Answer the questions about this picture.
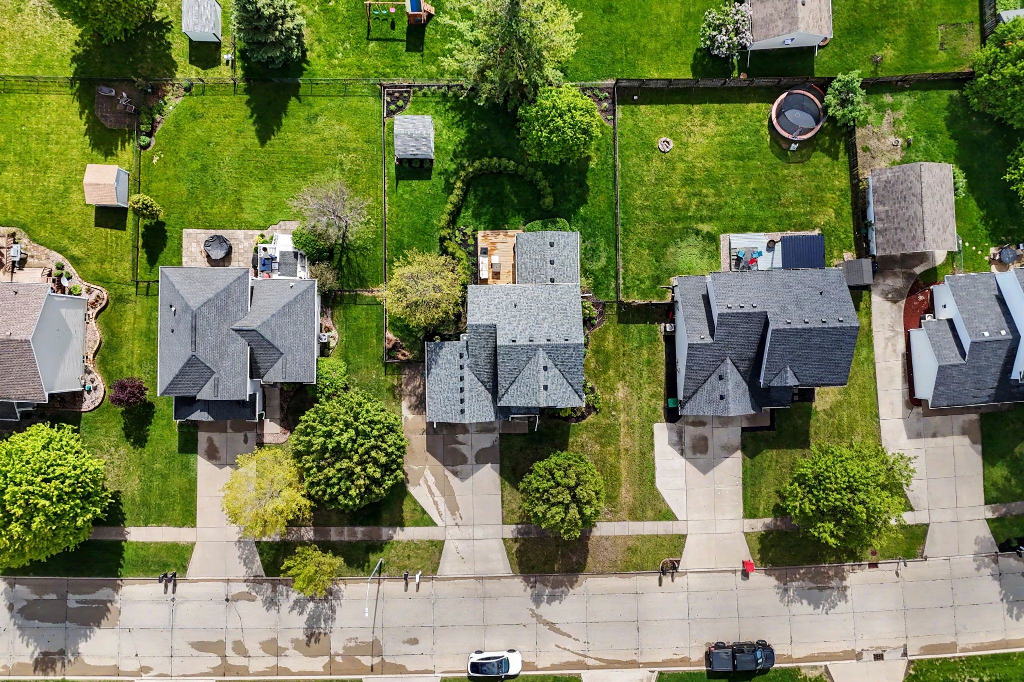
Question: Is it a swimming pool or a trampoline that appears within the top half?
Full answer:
The feature located within the top half is a trampoline.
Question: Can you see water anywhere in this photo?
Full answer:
No, water can't be seen anywhere here.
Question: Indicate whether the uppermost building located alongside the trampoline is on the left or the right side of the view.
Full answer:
You can find the uppermost building located alongside the trampoline on the right side of the picture.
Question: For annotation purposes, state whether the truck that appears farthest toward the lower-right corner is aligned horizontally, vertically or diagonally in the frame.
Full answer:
The truck that appears farthest toward the lower-right corner runs horizontally in the image.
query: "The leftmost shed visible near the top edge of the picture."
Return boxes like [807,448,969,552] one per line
[183,0,222,42]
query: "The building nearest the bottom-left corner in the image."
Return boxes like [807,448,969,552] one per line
[0,282,84,421]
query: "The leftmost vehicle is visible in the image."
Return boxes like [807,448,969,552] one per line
[468,651,522,680]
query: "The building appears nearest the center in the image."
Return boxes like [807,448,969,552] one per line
[425,230,585,428]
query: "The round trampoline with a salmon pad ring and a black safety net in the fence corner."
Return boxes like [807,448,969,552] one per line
[769,81,831,143]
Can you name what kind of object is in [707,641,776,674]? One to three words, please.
truck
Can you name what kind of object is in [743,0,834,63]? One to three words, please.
building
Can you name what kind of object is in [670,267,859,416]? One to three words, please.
house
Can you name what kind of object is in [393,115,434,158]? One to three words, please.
shed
